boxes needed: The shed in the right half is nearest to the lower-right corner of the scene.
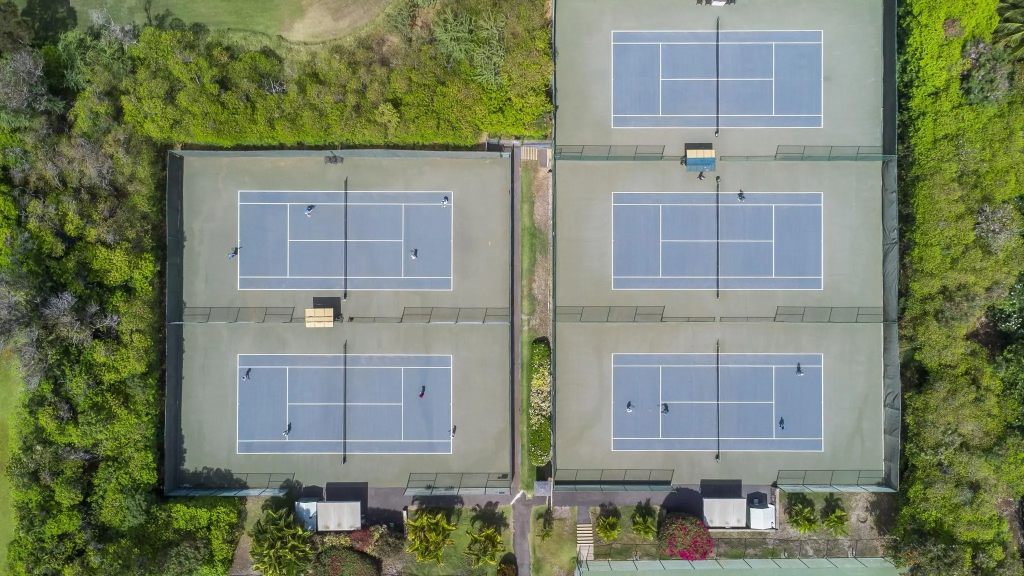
[746,500,774,530]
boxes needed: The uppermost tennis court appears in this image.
[555,0,883,160]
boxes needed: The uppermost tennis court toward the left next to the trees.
[180,156,511,322]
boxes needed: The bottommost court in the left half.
[180,322,511,487]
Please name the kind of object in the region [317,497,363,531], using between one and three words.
shed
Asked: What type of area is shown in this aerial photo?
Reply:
sports ground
